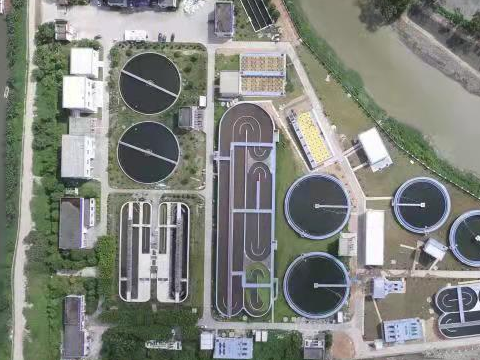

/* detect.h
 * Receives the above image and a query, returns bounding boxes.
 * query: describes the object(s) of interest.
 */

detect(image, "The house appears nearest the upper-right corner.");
[359,127,392,169]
